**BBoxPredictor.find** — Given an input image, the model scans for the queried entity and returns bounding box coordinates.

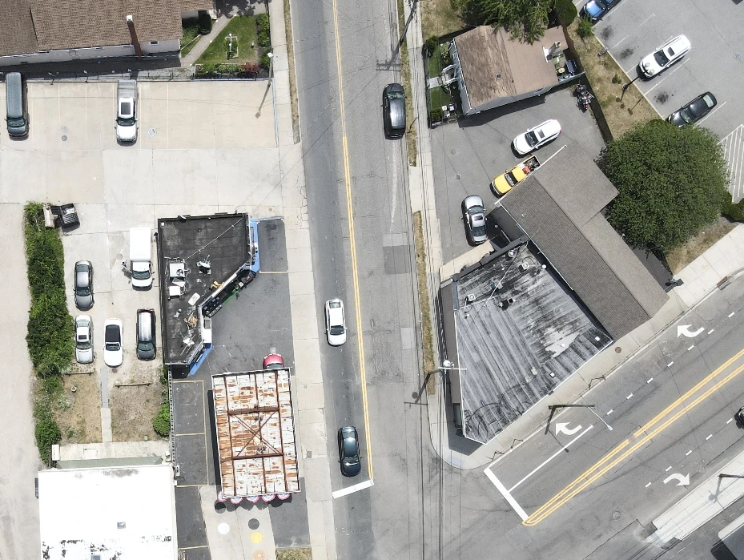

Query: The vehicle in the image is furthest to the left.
[4,70,31,137]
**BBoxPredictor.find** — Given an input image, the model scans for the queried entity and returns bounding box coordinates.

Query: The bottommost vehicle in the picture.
[337,426,361,478]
